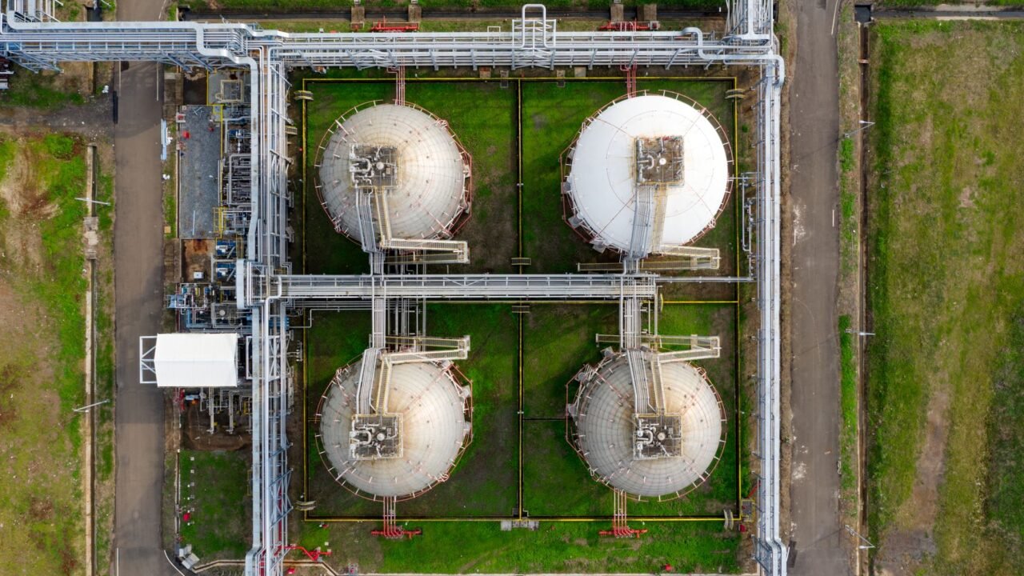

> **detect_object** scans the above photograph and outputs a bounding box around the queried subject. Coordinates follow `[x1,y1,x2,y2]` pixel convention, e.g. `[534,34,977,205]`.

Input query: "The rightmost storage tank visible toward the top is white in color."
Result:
[560,88,736,261]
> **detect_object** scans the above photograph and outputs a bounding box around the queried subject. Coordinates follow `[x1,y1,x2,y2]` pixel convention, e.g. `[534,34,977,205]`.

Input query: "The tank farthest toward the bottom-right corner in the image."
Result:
[565,341,728,503]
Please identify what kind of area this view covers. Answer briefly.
industrial area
